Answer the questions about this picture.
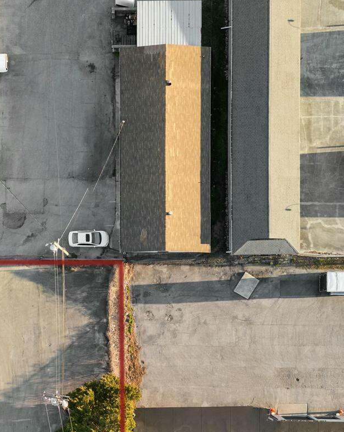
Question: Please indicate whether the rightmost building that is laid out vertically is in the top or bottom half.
top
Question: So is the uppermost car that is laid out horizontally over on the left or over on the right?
left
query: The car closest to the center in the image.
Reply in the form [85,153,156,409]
[67,229,108,249]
